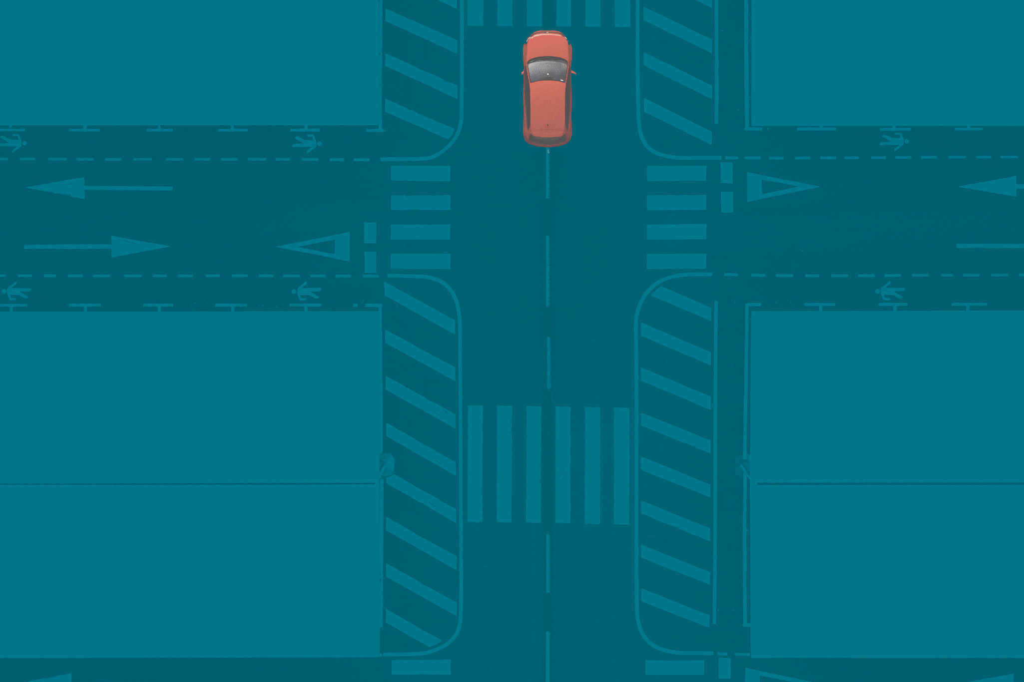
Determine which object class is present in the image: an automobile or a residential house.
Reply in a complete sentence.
Visible in the photo is an automobile.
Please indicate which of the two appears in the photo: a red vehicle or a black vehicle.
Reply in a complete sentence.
Of the two, only a red vehicle appears.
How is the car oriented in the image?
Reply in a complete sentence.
I'd say the car is aligned vertically in the picture.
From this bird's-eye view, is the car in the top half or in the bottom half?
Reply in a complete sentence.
It is in the top half that the car appears.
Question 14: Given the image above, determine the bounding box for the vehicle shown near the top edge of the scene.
[521,30,577,147]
